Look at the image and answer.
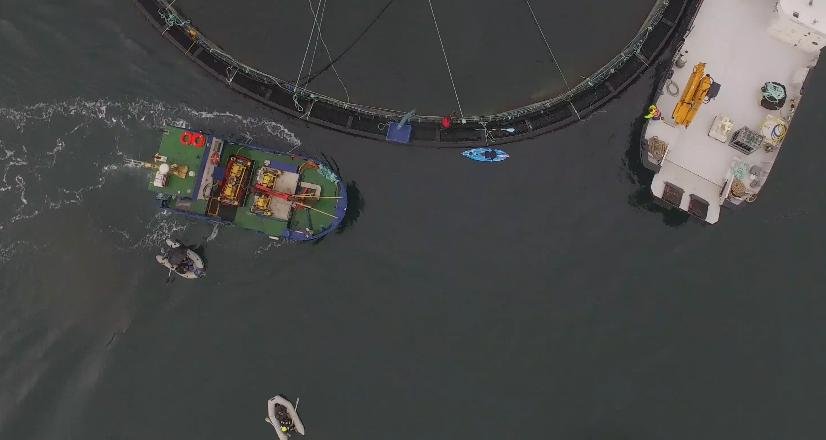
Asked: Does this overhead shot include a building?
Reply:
No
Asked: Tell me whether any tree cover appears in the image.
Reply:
No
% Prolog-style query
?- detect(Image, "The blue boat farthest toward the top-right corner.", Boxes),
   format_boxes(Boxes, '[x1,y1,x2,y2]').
[461,148,510,161]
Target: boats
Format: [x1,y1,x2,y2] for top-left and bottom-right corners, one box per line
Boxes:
[633,0,826,220]
[461,148,510,161]
[269,395,305,440]
[120,127,352,238]
[153,238,205,279]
